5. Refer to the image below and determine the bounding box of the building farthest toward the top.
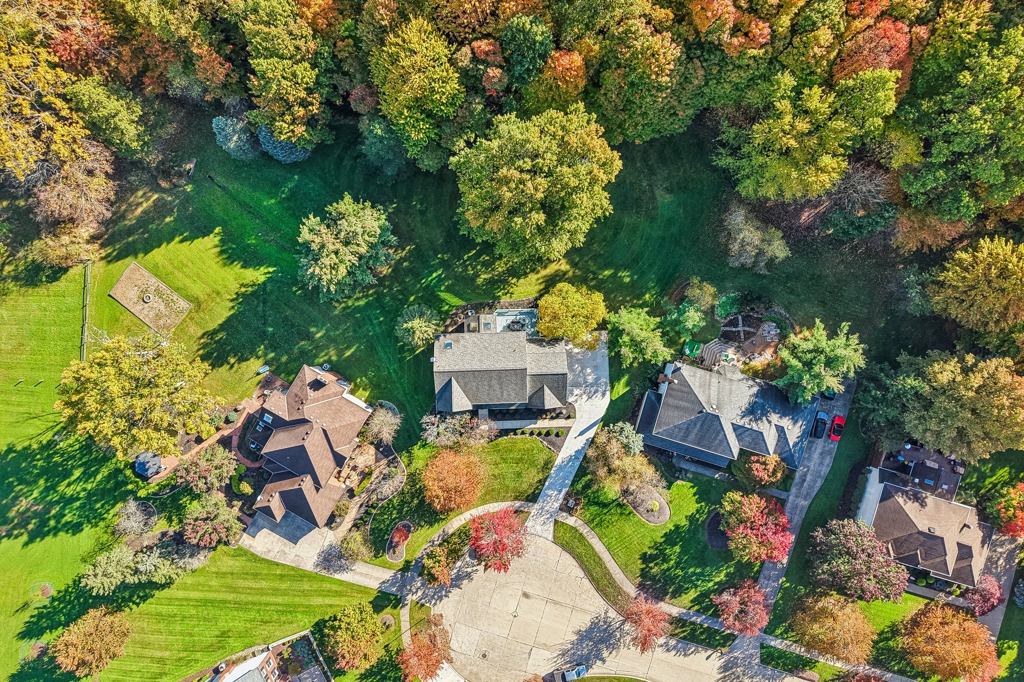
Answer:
[430,314,567,413]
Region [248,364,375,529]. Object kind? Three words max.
house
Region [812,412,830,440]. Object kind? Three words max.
car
